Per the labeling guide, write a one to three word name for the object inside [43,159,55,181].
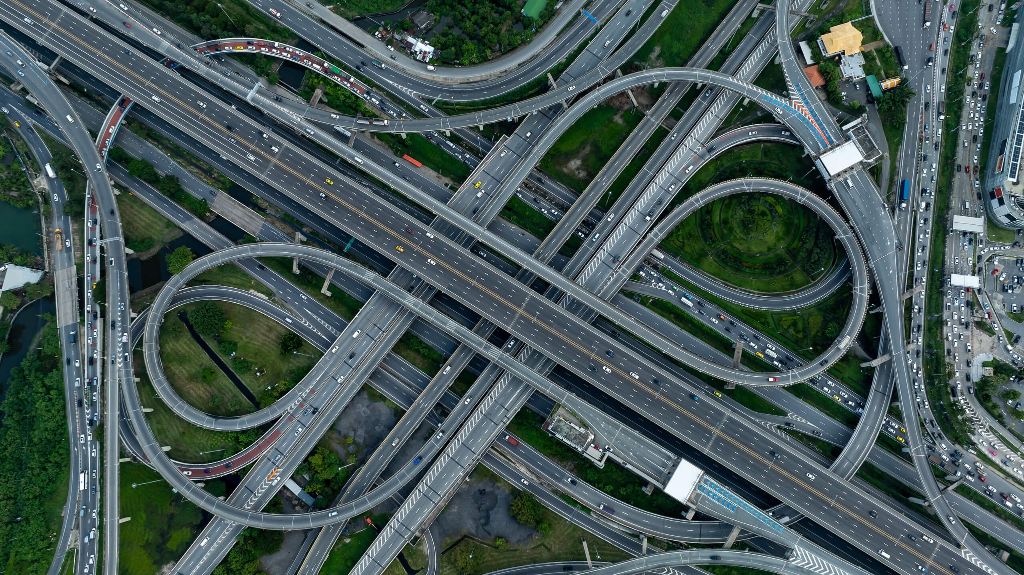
vehicle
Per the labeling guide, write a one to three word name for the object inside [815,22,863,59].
house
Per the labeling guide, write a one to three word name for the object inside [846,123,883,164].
building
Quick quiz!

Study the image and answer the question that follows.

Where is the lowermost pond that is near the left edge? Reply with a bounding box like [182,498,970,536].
[0,200,42,261]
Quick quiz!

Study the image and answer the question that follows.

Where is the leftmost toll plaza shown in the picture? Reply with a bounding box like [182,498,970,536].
[659,458,706,504]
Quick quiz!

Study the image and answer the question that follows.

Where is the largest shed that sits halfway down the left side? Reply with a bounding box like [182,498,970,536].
[1,263,47,292]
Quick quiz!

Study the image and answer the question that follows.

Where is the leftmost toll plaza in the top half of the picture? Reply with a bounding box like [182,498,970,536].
[820,139,864,177]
